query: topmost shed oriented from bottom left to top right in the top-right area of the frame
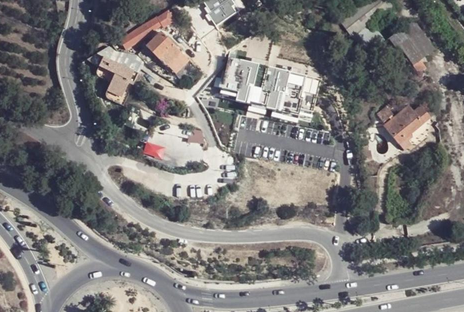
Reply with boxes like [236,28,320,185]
[344,0,382,30]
